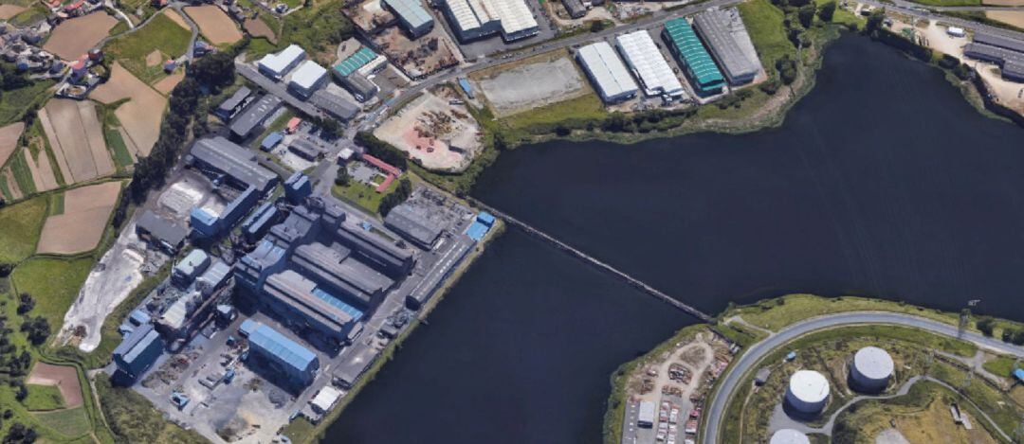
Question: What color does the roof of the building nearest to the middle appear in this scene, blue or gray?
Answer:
blue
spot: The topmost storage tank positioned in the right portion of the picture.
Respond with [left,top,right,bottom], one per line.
[852,346,894,389]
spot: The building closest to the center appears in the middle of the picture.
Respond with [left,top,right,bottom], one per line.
[465,211,495,245]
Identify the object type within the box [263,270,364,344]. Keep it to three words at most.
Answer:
building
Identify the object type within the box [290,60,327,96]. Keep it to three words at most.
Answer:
building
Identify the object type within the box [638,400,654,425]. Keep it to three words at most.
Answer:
shed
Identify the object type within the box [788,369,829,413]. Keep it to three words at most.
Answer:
storage tank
